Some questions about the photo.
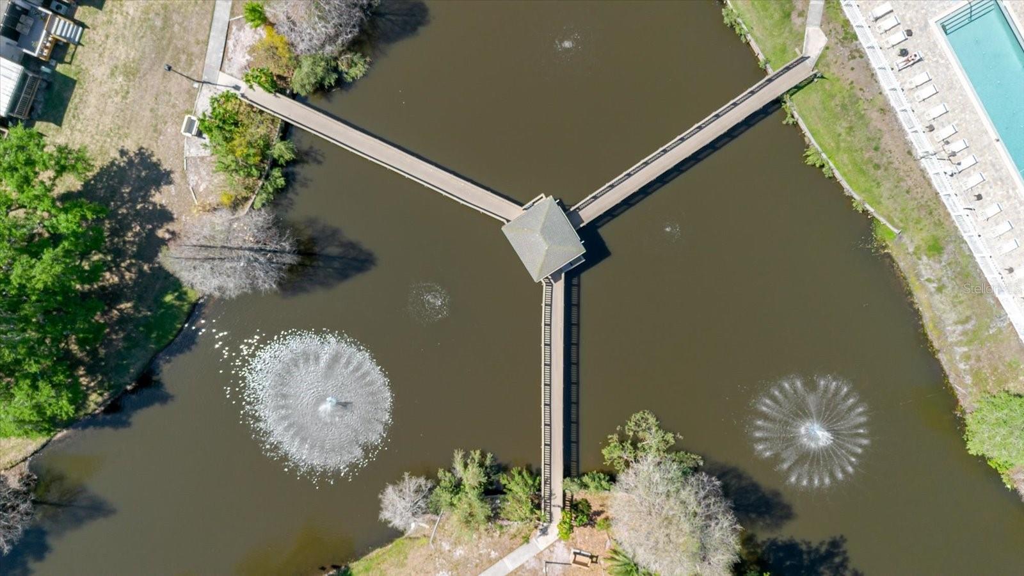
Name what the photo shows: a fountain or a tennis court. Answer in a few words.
fountain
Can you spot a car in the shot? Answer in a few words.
No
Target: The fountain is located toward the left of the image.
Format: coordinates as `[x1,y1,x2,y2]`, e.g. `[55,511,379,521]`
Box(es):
[216,327,390,492]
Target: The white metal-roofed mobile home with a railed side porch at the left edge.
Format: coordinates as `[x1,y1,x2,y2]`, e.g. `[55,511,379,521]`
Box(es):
[0,58,59,132]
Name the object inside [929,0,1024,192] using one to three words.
swimming pool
